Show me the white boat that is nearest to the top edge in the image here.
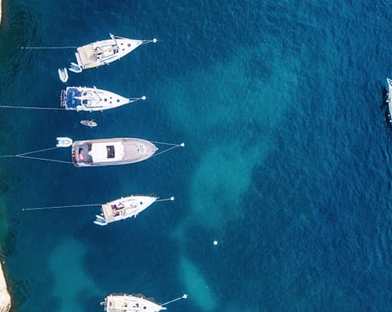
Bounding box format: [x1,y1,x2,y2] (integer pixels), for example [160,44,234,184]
[74,34,145,67]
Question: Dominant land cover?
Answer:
water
